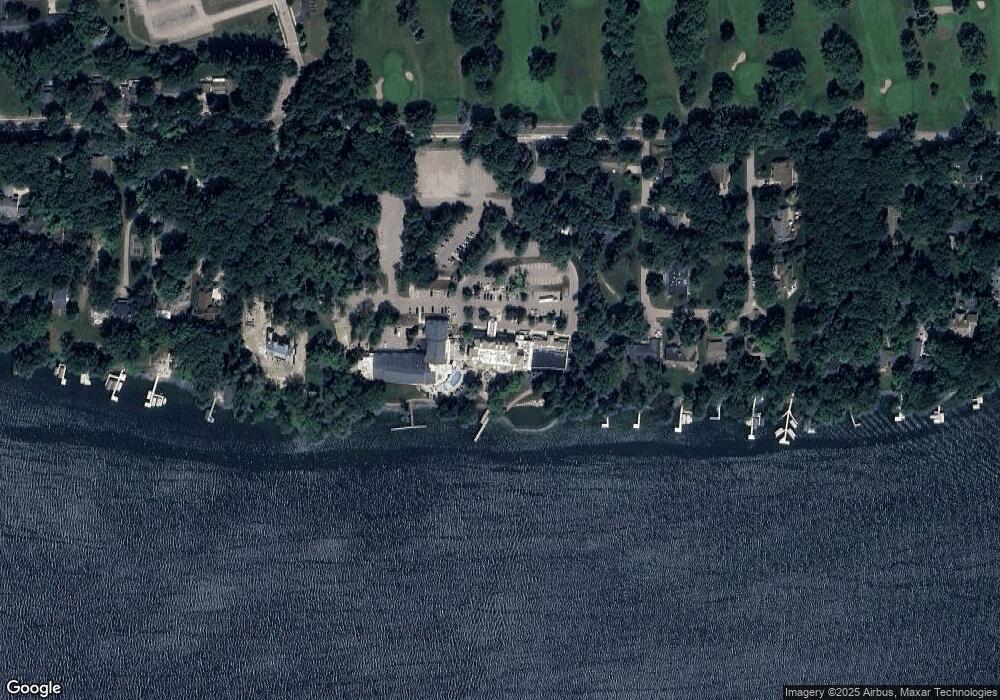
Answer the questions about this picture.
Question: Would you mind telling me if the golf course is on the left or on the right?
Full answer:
The golf course appears in the right half of the scene.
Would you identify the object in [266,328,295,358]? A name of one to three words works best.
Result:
house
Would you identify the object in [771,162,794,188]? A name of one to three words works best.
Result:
house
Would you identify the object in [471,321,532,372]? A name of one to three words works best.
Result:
building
